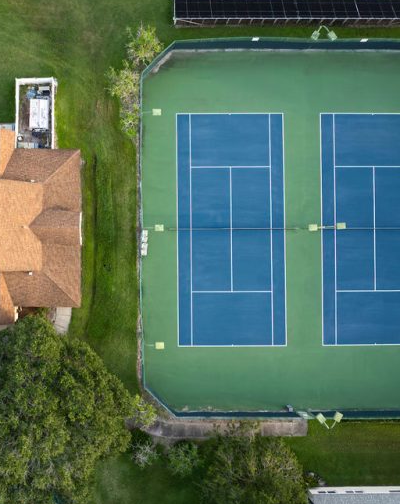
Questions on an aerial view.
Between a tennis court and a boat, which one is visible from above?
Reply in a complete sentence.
I can see a tennis court in this picture.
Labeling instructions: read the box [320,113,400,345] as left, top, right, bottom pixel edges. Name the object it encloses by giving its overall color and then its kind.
blue tennis court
